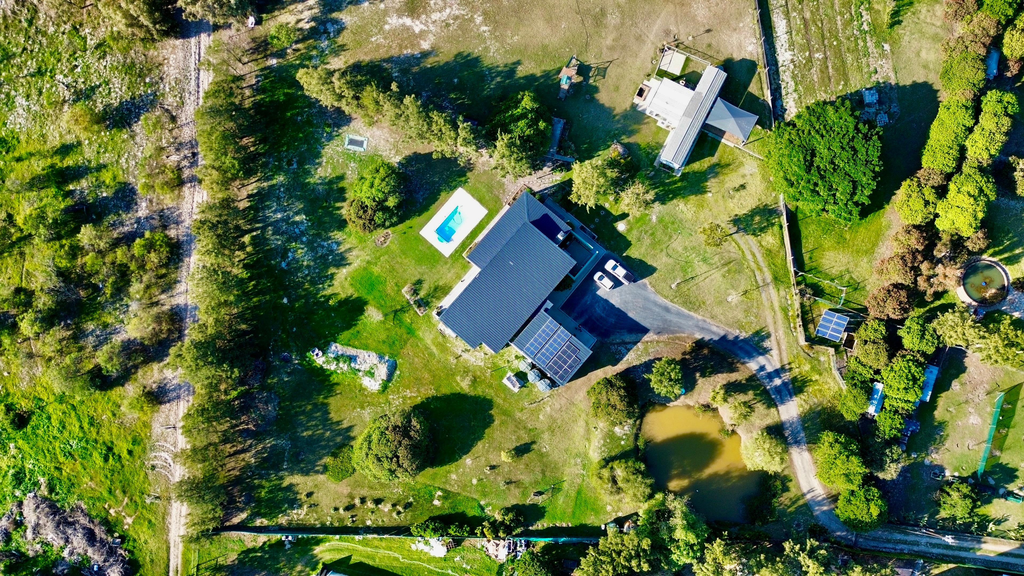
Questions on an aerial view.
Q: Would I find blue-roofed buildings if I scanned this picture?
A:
Yes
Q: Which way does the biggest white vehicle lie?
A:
at an angle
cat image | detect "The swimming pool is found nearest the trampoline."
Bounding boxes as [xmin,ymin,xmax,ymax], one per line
[419,188,488,258]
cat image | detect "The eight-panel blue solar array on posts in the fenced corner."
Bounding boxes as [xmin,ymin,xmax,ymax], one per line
[815,310,849,341]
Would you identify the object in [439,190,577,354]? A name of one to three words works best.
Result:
house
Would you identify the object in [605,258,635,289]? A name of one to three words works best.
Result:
vehicle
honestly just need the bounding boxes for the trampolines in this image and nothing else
[345,134,368,151]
